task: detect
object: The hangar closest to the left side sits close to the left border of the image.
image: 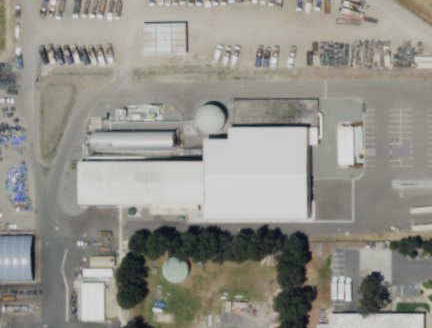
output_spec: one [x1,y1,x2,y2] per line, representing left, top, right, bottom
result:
[0,236,32,280]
